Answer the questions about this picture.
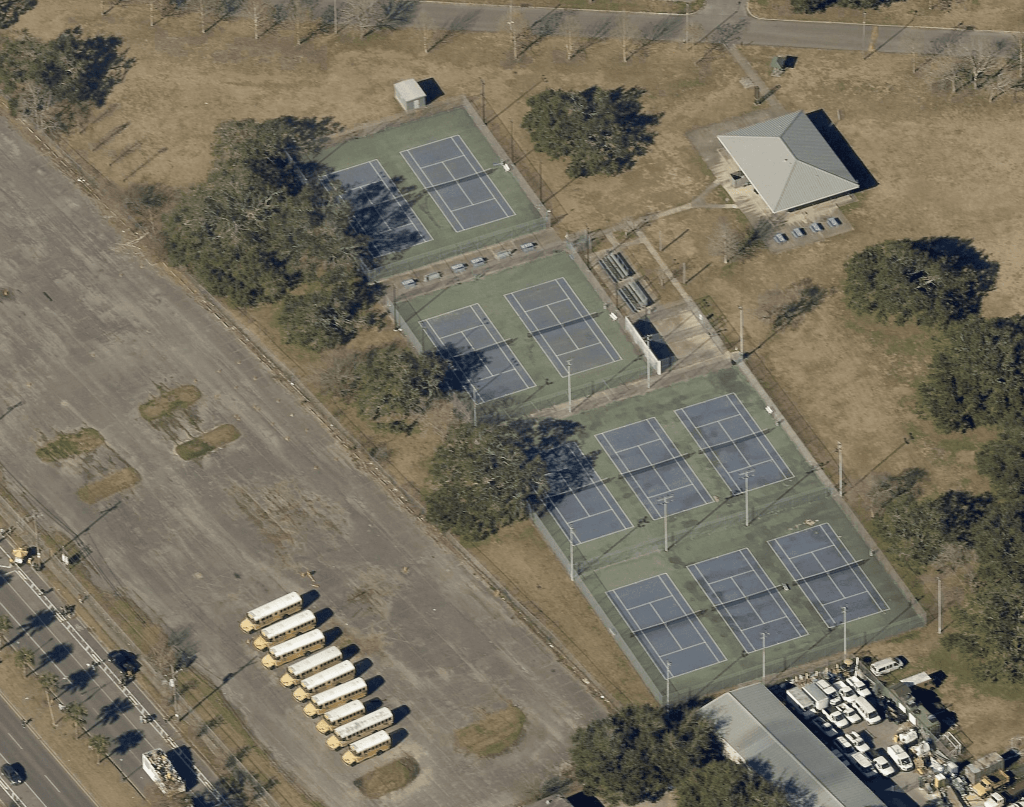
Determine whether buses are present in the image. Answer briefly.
Yes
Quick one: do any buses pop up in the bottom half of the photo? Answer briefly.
Yes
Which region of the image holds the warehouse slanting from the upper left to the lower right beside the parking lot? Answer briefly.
bottom right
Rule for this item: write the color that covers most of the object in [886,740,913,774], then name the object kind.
white vehicle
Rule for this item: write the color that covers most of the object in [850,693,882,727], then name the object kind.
white van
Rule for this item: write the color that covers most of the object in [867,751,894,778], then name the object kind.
white truck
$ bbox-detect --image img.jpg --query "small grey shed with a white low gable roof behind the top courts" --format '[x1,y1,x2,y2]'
[393,81,424,114]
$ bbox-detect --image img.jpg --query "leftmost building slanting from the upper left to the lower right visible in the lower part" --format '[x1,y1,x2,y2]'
[701,681,888,807]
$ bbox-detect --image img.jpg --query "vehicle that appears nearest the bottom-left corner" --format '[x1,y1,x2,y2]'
[0,761,25,784]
